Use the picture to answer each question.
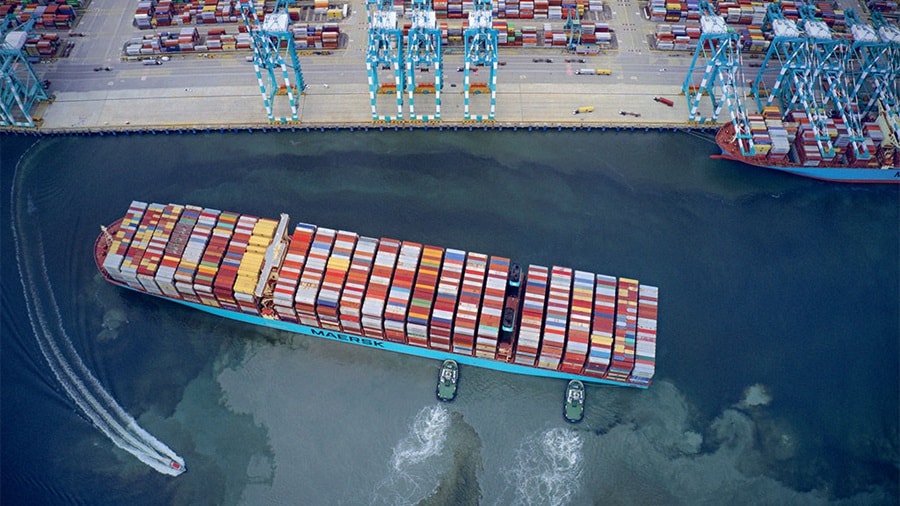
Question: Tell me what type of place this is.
port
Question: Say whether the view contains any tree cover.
No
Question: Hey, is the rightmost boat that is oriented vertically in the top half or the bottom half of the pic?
bottom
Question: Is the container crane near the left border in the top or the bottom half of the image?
top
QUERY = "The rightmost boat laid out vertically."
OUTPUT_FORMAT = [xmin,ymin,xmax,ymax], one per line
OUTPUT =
[562,380,584,427]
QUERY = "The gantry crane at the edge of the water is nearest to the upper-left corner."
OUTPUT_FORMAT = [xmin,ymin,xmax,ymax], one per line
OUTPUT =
[0,15,49,126]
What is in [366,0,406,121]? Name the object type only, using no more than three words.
container crane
